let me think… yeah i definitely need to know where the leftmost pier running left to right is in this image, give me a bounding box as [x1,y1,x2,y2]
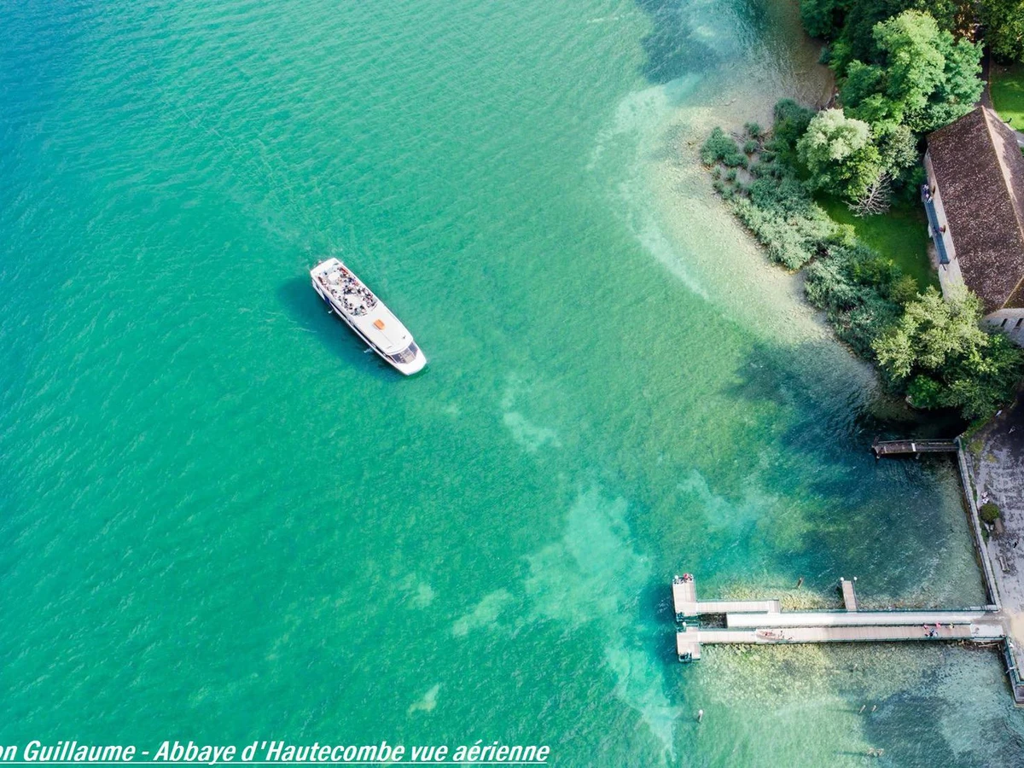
[675,578,780,624]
